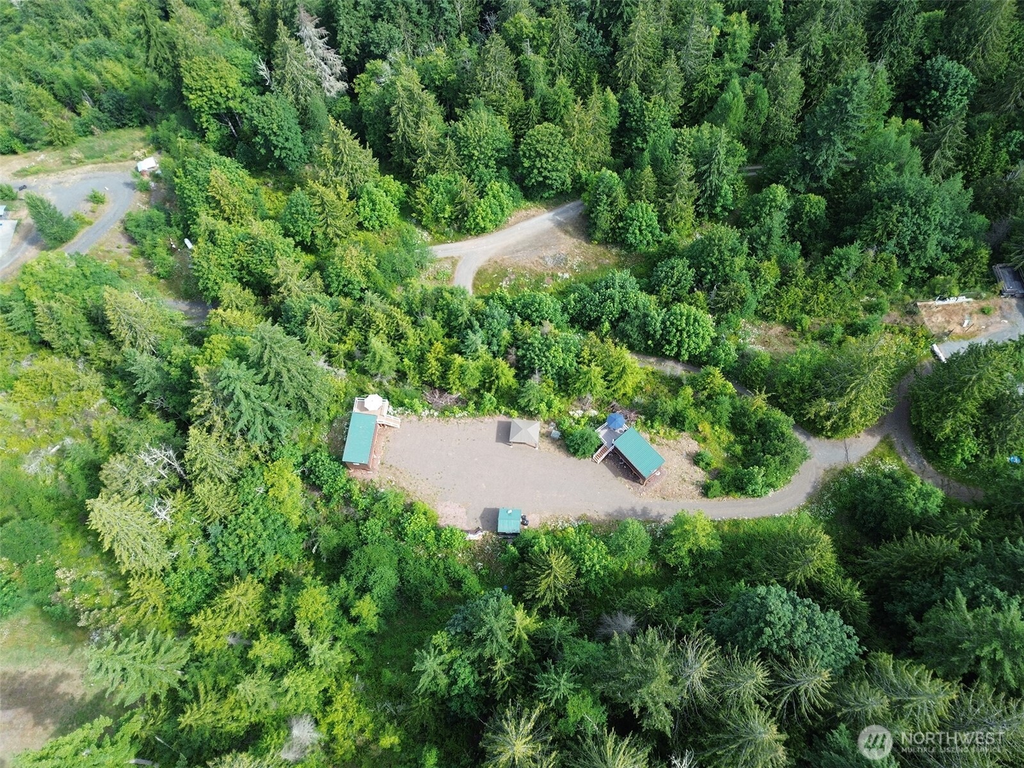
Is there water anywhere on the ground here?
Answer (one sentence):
No, there's no water in this view.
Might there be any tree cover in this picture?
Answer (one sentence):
Yes, some tree cover is visible.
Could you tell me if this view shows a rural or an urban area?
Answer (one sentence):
It looks rural.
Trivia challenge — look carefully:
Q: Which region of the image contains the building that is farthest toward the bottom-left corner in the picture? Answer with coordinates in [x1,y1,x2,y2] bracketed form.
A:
[340,412,382,472]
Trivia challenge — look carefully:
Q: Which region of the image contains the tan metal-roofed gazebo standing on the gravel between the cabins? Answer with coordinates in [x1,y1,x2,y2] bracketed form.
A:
[509,420,540,450]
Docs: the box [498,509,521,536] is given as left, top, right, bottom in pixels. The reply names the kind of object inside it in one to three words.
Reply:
shed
